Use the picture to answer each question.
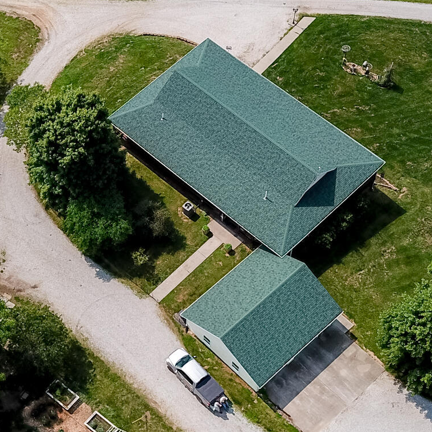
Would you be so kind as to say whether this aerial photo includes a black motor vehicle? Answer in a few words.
No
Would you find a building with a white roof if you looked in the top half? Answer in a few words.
No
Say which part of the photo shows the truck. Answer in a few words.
bottom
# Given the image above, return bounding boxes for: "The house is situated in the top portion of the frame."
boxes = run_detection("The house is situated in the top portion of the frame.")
[112,39,385,255]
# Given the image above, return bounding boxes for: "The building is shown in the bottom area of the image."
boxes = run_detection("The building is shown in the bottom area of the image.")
[178,243,344,399]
